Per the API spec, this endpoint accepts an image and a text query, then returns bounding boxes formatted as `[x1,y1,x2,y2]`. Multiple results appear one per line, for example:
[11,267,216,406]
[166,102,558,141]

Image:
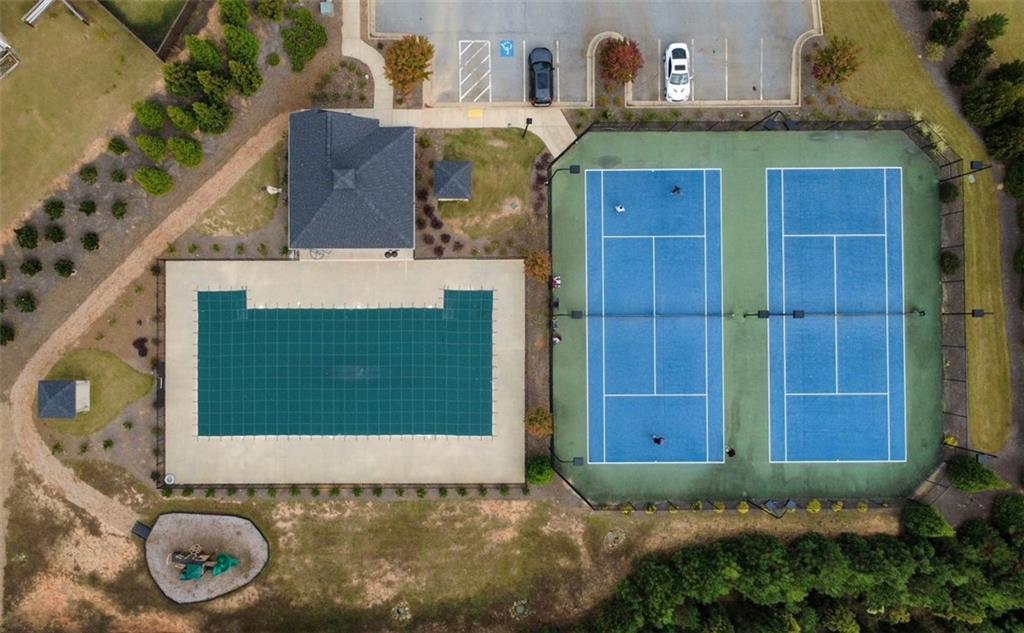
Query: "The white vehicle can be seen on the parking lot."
[667,42,695,103]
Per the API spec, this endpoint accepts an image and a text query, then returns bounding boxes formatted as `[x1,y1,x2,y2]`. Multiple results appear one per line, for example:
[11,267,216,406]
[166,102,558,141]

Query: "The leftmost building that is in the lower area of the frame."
[38,380,90,418]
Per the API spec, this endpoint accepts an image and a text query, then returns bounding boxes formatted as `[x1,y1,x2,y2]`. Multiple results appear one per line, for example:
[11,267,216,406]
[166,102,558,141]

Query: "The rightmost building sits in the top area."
[433,161,473,202]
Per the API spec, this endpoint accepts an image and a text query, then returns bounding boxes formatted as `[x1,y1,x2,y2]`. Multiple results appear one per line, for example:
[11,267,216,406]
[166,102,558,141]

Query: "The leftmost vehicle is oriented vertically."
[528,48,555,107]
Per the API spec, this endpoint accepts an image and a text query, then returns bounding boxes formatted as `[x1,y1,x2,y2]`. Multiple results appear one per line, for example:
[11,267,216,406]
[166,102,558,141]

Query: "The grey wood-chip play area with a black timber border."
[130,512,270,606]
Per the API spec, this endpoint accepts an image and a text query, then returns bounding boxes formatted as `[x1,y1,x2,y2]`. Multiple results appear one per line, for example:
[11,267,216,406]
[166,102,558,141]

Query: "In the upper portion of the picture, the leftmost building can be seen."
[287,108,415,249]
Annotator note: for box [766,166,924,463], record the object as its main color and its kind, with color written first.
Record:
blue tennis court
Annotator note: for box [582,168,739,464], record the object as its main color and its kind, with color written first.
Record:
blue tennis court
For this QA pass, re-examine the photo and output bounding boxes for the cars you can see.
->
[528,48,555,107]
[667,42,695,103]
